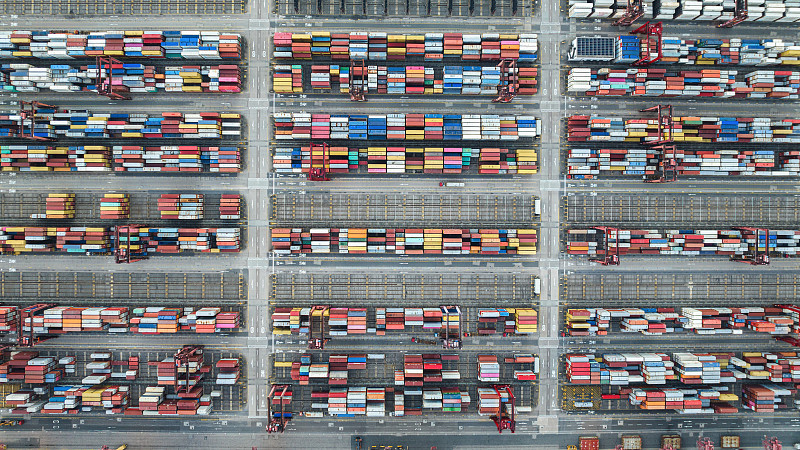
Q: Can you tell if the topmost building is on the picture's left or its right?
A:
right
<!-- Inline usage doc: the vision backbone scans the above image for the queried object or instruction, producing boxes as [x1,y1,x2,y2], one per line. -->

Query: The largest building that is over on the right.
[567,36,614,65]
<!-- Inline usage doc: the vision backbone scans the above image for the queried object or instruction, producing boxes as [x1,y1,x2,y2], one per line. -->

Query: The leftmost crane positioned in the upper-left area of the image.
[20,101,62,143]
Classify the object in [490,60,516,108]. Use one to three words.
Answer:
container crane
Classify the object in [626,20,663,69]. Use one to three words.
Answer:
container crane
